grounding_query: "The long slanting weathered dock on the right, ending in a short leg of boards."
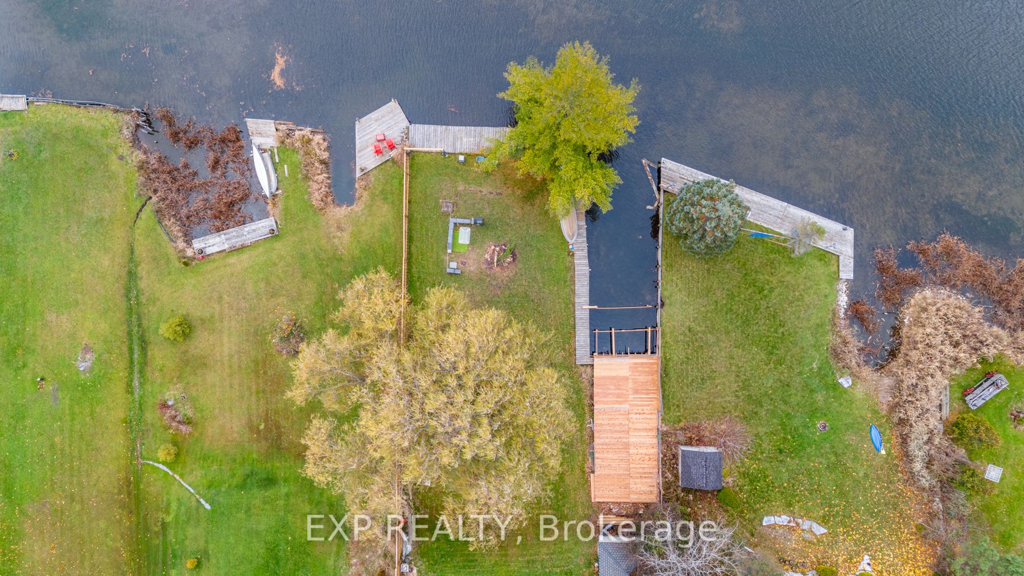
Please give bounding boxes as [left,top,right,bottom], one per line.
[661,158,854,279]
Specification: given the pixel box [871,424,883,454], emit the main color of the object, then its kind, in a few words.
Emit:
blue boat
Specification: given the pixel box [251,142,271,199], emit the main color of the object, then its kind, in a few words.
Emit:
white boat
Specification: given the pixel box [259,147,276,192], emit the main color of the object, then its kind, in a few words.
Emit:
white boat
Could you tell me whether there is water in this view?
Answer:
Yes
